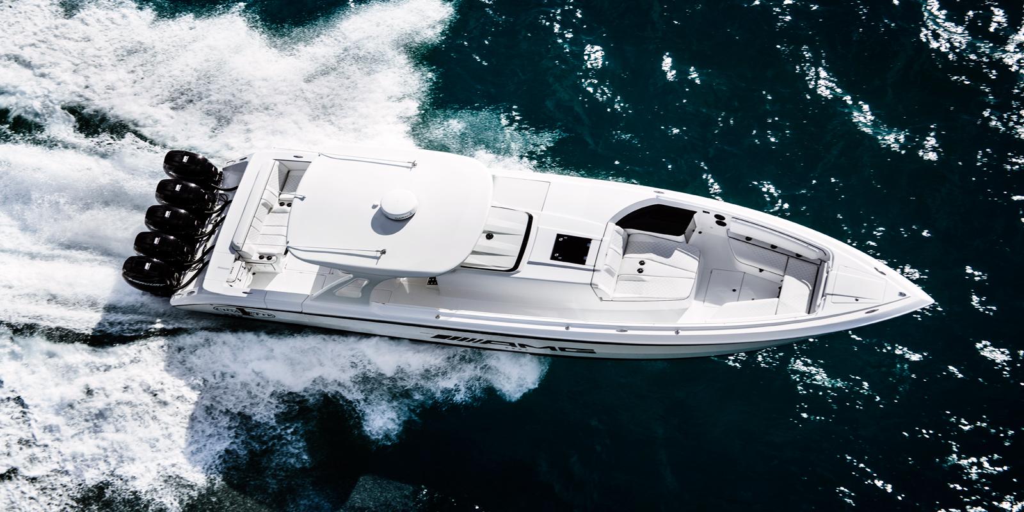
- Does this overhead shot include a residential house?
No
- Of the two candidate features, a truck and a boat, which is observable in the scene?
boat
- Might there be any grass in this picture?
No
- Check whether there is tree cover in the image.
No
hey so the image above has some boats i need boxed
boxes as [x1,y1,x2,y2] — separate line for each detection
[121,146,939,360]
